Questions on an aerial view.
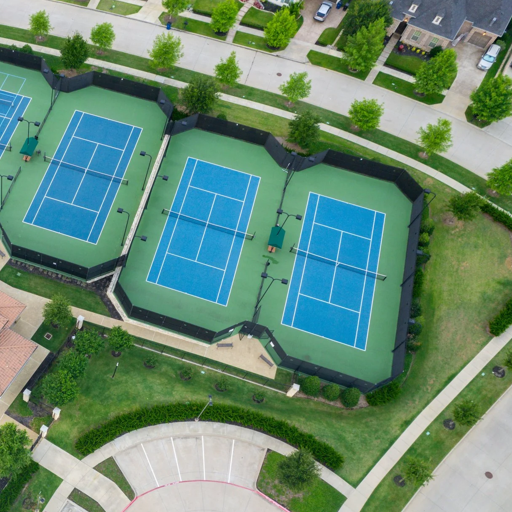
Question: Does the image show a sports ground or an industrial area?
sports ground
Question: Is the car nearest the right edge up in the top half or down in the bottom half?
top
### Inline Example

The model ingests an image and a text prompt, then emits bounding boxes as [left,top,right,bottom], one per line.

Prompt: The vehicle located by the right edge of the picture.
[482,41,506,66]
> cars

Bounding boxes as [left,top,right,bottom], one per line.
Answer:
[482,41,506,66]
[316,0,333,20]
